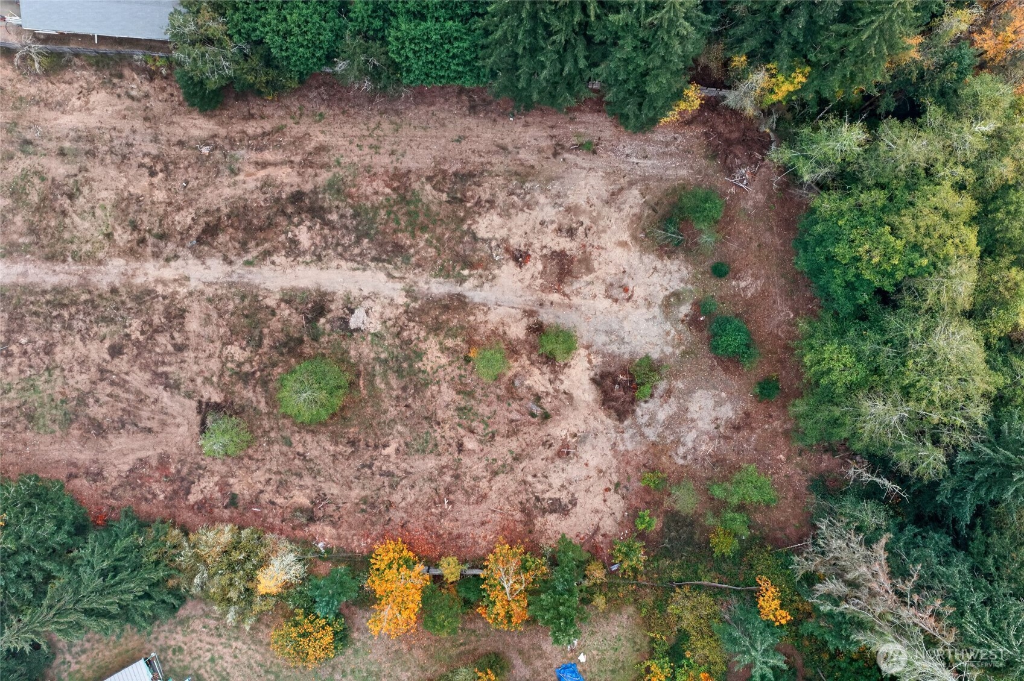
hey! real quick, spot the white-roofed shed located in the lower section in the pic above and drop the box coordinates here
[102,641,179,681]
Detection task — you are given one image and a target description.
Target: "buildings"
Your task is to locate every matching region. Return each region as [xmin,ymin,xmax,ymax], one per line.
[102,641,179,681]
[19,0,193,46]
